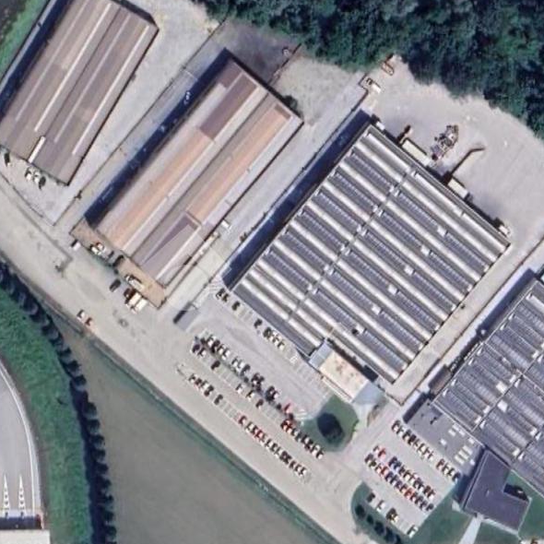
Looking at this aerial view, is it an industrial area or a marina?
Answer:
industrial area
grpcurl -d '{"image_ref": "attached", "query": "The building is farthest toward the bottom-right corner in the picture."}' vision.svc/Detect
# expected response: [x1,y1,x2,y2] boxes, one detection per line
[462,449,529,536]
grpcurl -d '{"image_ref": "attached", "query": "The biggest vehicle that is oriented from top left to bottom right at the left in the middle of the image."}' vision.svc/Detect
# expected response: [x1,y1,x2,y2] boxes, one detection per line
[125,275,143,289]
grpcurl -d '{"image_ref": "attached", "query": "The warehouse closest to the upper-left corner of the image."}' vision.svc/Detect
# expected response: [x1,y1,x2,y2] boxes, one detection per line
[0,0,160,184]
